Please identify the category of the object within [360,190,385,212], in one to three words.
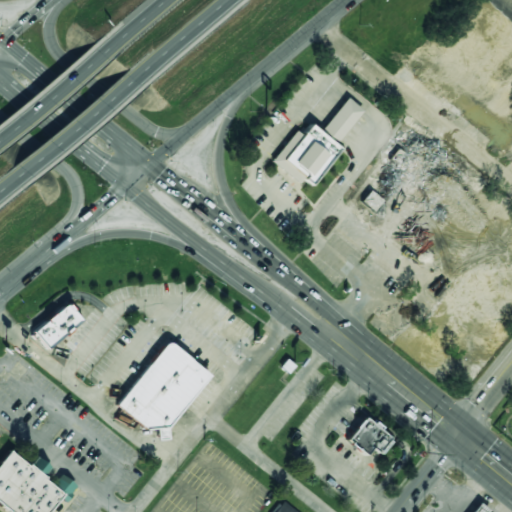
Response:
building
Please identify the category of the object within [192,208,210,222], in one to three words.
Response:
vehicle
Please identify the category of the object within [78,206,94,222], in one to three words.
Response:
vehicle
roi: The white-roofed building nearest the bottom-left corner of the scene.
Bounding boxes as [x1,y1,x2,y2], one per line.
[0,450,64,512]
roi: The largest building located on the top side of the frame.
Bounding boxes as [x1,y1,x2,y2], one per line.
[282,125,344,186]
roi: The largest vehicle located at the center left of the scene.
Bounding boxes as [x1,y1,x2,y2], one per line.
[50,234,77,254]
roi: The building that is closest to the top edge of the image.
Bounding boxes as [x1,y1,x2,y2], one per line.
[322,99,366,141]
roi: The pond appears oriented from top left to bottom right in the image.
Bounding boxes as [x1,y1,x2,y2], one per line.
[454,92,512,162]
